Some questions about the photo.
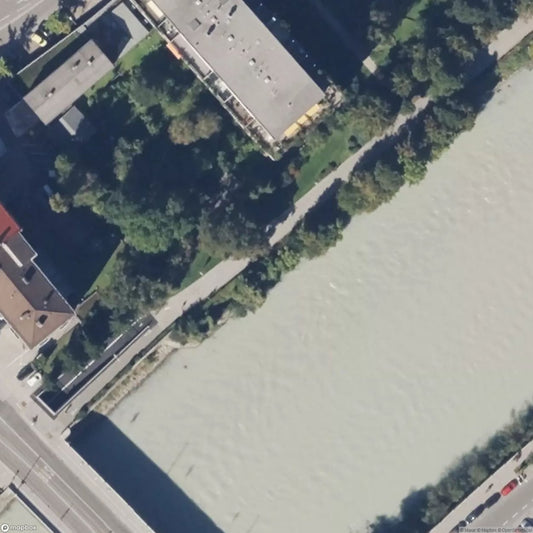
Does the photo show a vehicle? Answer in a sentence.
Yes, looking at the shot, I can spot a vehicle.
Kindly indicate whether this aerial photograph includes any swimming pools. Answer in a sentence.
No, I can't see a single swimming pool in this photo.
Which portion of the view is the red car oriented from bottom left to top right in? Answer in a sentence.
You can find the red car oriented from bottom left to top right in the bottom right area of the picture.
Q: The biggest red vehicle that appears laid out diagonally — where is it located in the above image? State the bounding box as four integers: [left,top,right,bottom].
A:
[500,477,522,497]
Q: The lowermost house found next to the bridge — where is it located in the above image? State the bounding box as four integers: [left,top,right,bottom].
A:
[0,232,75,350]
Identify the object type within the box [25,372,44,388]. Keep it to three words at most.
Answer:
car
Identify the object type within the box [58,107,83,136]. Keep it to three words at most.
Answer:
shed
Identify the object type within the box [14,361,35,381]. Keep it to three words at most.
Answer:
car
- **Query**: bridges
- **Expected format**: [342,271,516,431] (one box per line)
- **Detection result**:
[0,397,156,533]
